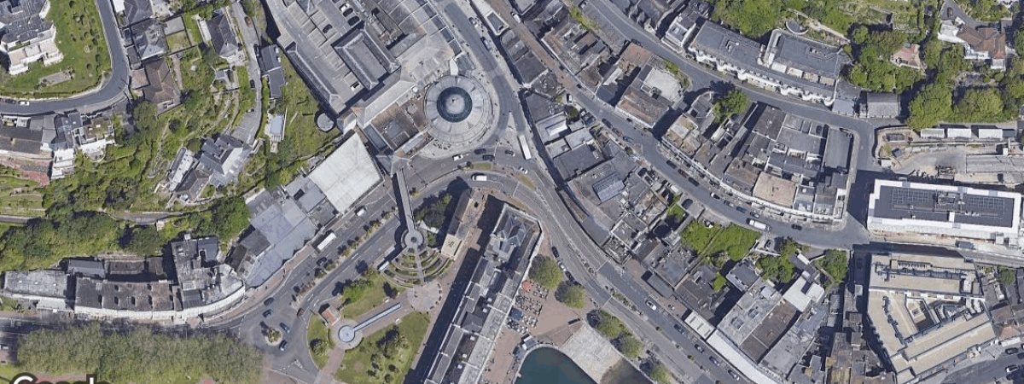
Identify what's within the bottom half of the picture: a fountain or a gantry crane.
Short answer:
fountain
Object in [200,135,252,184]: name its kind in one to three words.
house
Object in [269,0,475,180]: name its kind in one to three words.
building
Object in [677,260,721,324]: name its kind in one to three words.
building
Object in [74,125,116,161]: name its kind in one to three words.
house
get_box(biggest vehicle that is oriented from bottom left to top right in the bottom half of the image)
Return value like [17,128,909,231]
[318,233,335,249]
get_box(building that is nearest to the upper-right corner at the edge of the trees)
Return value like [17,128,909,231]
[938,23,1005,68]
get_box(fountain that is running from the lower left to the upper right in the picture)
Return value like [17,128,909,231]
[333,301,401,350]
